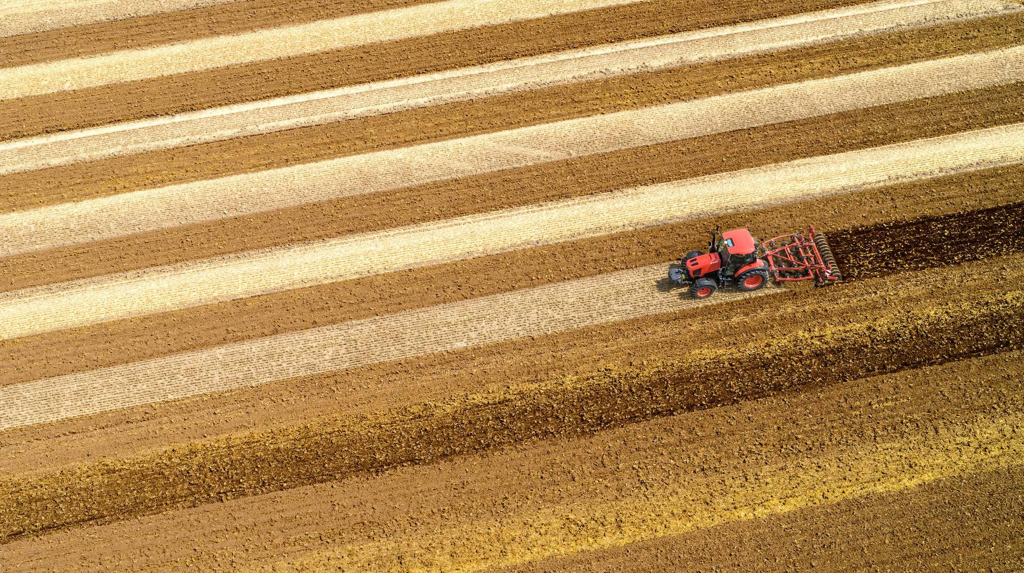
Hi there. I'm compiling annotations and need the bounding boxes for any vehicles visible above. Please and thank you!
[680,225,769,299]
